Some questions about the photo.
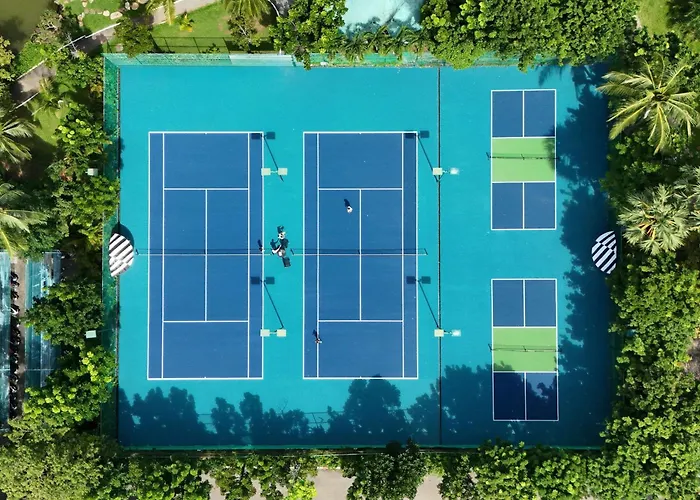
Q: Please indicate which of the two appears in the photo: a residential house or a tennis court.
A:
tennis court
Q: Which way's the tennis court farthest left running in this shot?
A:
from top to bottom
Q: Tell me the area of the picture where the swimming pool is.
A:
top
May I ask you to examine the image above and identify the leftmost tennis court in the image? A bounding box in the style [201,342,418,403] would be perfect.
[148,131,262,380]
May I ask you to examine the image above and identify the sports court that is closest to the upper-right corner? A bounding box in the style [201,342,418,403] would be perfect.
[492,90,556,229]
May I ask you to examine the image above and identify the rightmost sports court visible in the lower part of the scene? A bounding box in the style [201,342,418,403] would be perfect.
[492,279,558,421]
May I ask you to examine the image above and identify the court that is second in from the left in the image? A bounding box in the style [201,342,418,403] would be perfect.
[303,131,418,380]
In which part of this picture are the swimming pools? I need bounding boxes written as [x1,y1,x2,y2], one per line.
[323,0,442,46]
